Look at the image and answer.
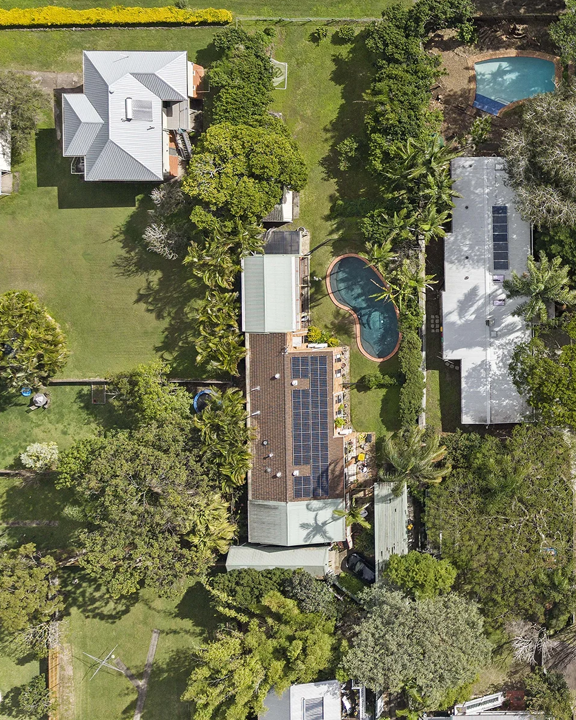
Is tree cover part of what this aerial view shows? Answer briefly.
Yes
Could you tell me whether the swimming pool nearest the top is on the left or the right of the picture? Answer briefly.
right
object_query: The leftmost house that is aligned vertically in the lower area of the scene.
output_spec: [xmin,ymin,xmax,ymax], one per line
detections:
[247,330,354,552]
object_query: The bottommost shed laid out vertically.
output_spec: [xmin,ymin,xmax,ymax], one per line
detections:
[373,483,408,582]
